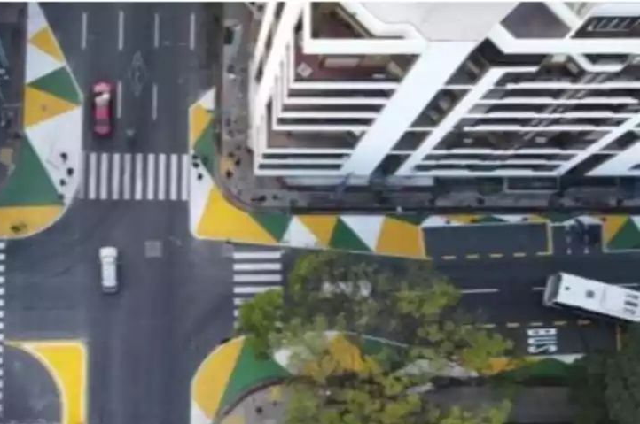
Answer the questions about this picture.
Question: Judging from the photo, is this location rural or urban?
urban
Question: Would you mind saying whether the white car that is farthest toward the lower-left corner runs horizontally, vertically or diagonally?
vertically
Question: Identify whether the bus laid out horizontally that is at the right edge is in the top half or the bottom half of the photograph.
bottom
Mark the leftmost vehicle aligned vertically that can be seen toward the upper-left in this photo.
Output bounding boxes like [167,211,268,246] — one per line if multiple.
[89,84,114,136]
